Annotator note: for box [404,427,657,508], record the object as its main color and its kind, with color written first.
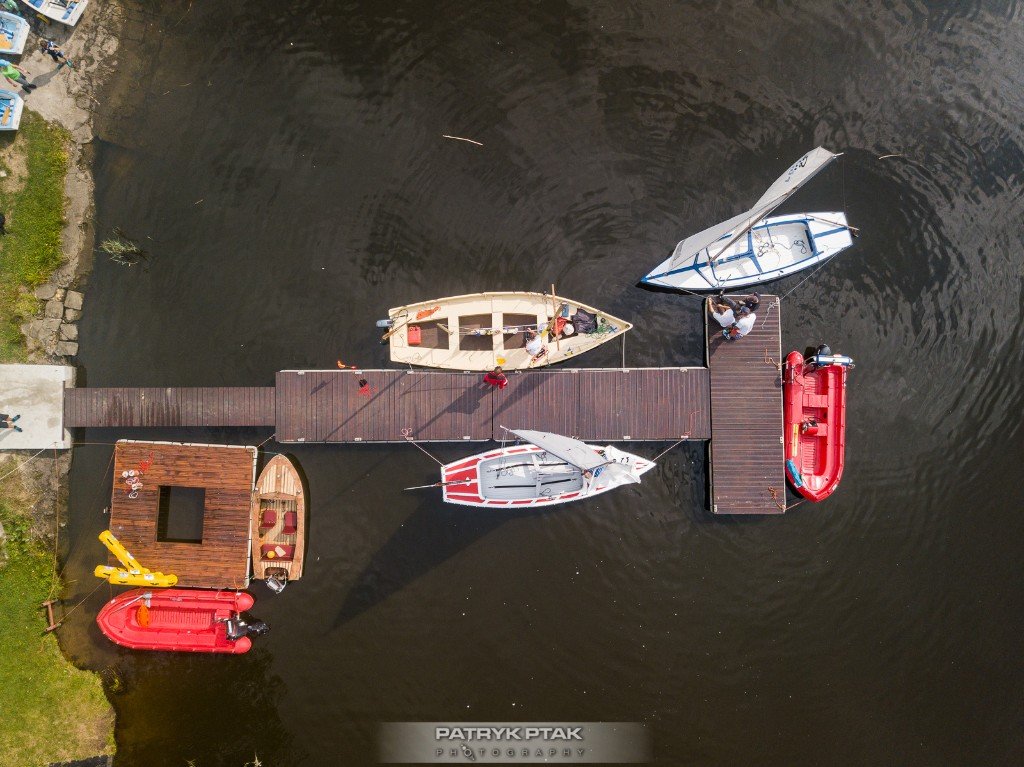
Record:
white boat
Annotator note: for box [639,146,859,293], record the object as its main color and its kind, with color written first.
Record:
white boat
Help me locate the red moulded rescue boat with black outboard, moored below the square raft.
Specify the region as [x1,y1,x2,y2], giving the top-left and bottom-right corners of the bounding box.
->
[97,586,273,651]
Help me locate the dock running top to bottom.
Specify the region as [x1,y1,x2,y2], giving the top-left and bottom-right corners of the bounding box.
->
[704,293,787,516]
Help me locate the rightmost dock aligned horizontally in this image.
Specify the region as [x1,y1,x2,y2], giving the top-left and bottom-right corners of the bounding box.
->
[494,365,709,444]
